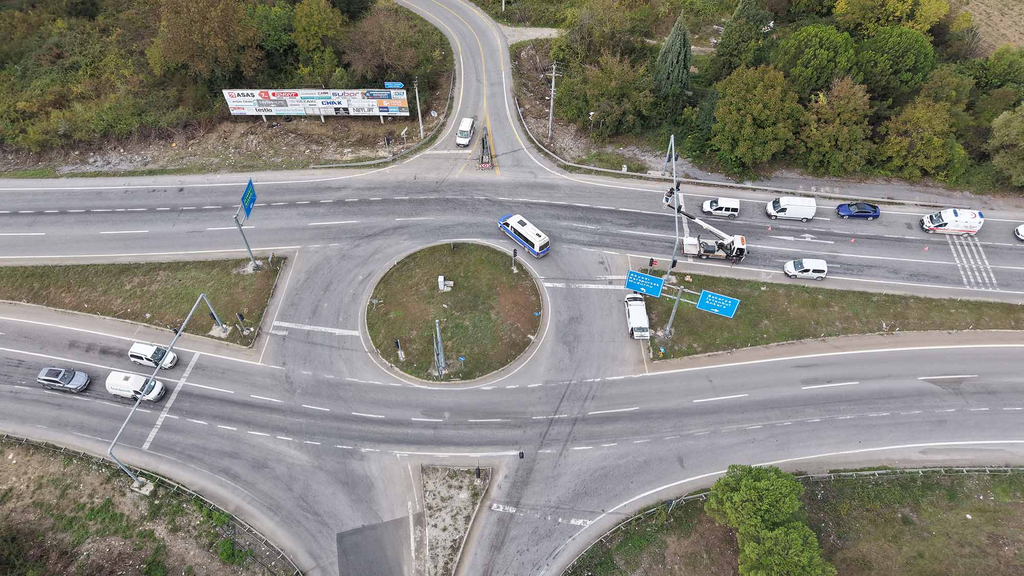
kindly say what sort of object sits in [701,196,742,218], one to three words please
vehicle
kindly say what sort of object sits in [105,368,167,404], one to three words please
van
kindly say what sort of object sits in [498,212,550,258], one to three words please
vehicle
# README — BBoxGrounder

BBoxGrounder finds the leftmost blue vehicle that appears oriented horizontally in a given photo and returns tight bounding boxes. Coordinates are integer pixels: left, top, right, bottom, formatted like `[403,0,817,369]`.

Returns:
[834,201,882,221]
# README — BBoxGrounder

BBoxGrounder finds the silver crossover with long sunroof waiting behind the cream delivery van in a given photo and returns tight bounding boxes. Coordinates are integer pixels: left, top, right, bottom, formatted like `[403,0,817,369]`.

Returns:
[37,363,93,392]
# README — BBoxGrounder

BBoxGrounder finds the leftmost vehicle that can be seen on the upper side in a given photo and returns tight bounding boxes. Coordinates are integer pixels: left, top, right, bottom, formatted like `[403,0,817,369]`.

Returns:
[455,113,475,144]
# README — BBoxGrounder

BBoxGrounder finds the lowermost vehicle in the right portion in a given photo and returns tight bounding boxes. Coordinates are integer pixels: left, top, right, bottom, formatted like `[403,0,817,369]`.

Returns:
[625,295,649,340]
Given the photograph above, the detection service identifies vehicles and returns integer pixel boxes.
[701,196,742,218]
[1010,225,1024,243]
[834,201,882,221]
[660,188,746,268]
[498,212,550,258]
[919,208,984,238]
[783,257,830,281]
[105,368,167,404]
[37,363,93,392]
[763,196,817,222]
[455,113,475,144]
[625,295,649,340]
[127,340,178,371]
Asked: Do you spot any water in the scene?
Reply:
No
